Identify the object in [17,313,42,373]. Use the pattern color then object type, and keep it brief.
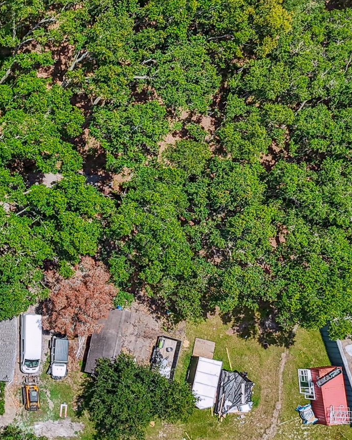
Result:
white vehicle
